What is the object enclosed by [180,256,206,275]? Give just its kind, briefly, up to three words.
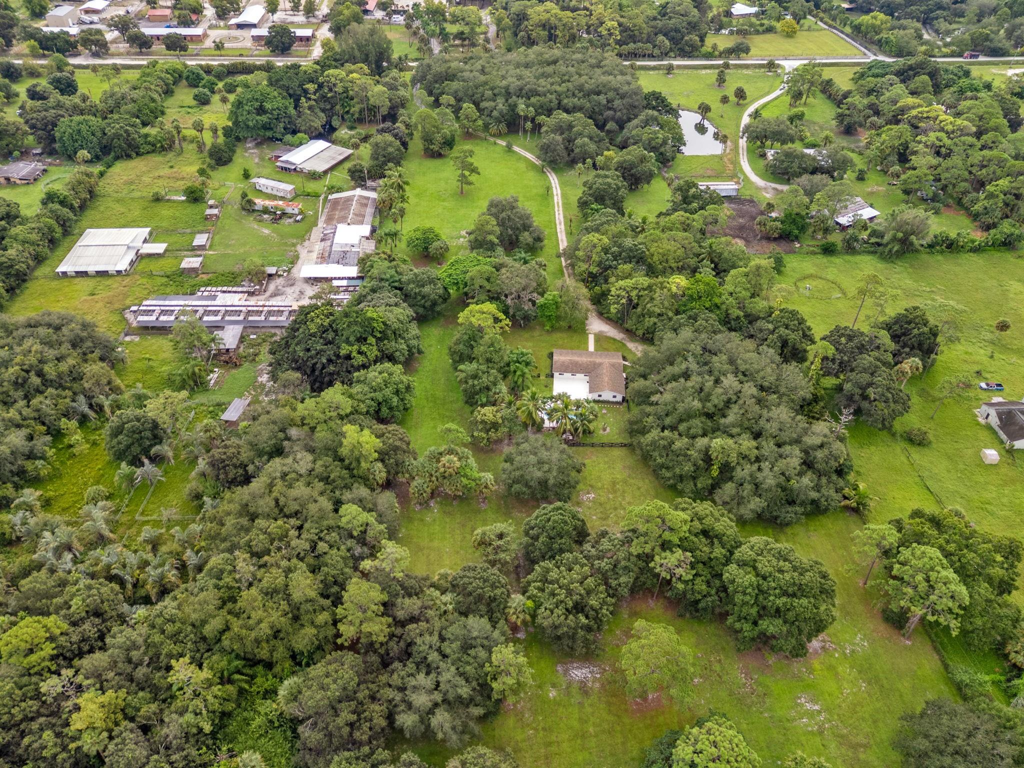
shed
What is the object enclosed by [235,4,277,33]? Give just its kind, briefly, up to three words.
barn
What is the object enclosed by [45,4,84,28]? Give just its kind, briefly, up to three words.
building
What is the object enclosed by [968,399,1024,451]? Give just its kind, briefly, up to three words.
house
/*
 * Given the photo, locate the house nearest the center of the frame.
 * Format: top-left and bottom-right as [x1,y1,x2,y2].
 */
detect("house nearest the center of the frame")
[554,349,626,402]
